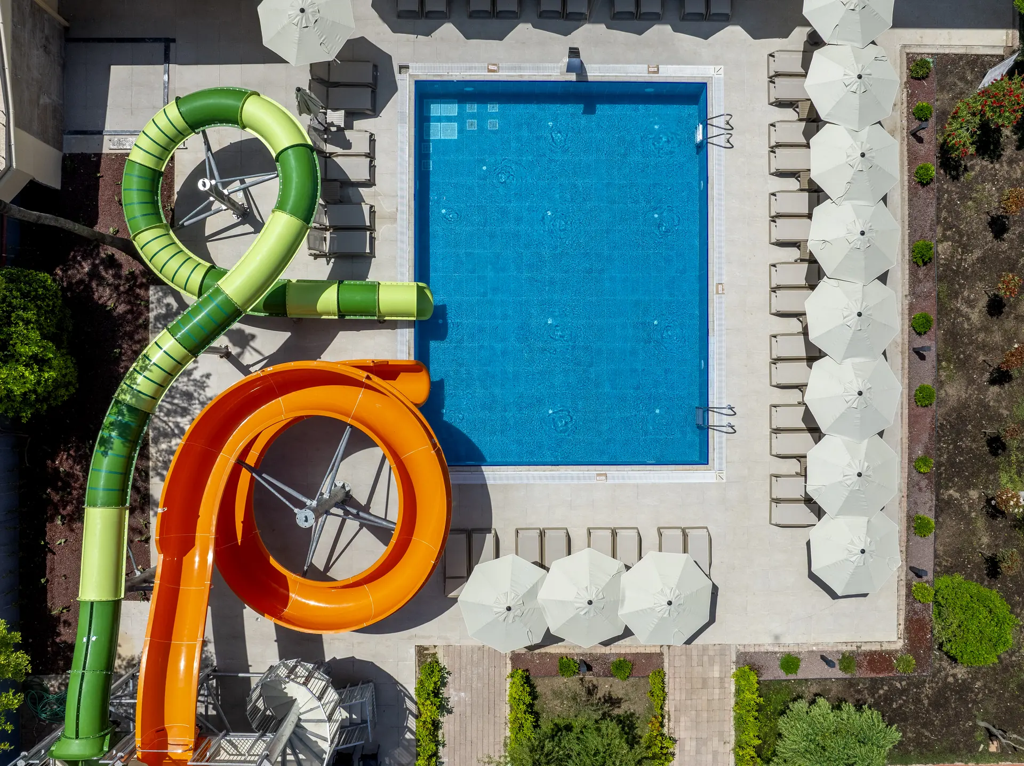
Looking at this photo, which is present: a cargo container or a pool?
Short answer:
pool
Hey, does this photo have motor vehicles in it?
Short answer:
No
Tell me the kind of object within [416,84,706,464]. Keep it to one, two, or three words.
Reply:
swimming pool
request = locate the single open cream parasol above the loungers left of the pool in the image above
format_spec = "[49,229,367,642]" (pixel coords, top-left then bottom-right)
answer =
[261,0,355,66]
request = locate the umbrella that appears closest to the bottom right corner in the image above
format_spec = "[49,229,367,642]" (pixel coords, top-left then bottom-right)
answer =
[806,508,899,592]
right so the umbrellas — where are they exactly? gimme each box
[623,549,711,642]
[806,508,899,592]
[295,86,335,133]
[805,430,894,512]
[805,0,894,54]
[261,0,355,66]
[804,195,900,277]
[803,43,898,126]
[808,118,897,200]
[544,546,630,643]
[803,353,899,437]
[460,552,550,649]
[804,274,897,359]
